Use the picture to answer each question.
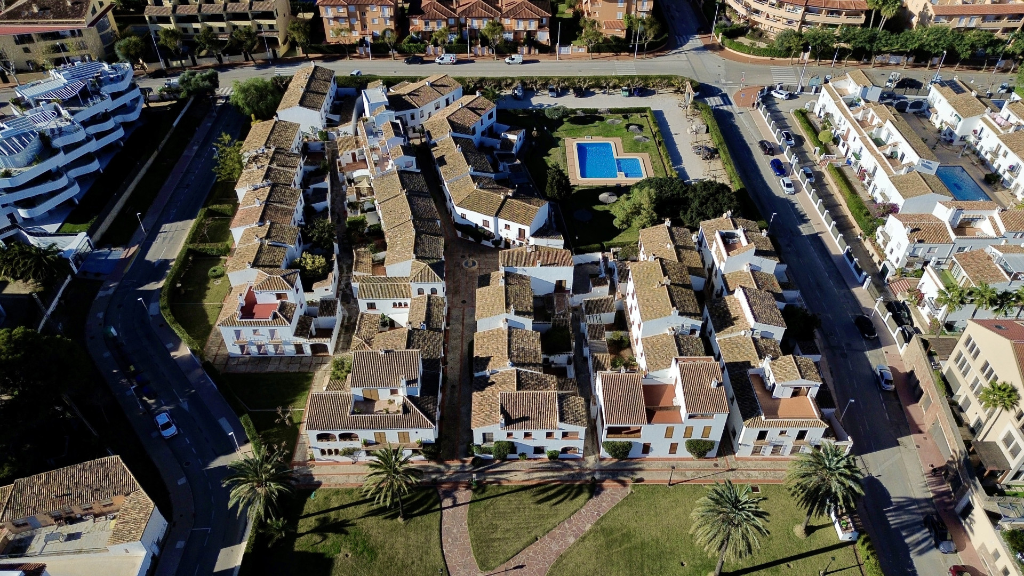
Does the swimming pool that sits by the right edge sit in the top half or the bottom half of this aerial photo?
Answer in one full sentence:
It is in the top half that the swimming pool that sits by the right edge appears.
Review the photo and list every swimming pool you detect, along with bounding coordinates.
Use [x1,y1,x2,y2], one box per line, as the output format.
[939,165,990,199]
[576,140,643,179]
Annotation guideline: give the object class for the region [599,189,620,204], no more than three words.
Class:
umbrella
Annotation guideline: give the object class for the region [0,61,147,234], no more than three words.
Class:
building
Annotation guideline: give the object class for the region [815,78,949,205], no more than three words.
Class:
house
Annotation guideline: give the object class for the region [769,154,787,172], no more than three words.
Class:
car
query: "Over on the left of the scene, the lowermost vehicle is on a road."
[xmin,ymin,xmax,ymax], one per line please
[149,406,178,437]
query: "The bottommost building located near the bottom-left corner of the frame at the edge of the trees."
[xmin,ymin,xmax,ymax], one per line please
[0,454,174,576]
